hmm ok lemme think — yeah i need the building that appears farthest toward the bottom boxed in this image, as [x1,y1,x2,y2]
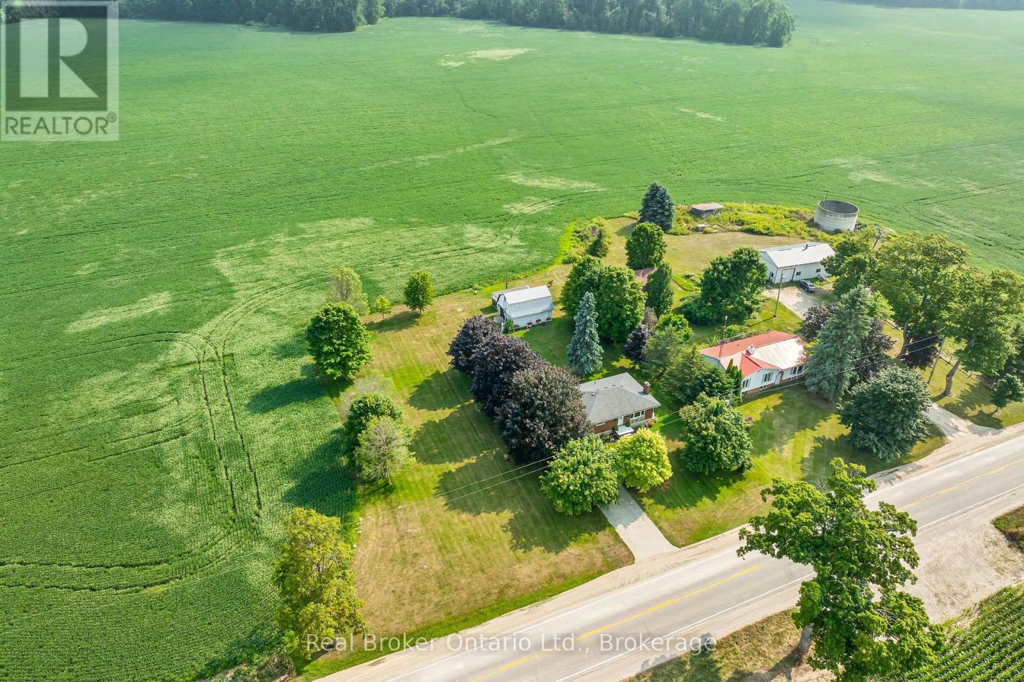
[577,373,661,439]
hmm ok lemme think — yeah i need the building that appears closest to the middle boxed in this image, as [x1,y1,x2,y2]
[492,286,556,328]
